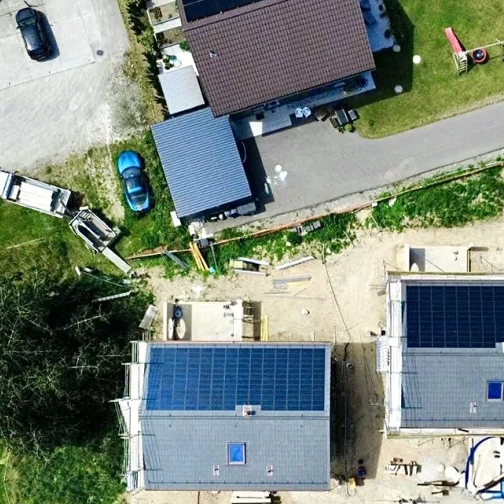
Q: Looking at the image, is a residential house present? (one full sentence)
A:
Yes, the frame does contain a residential house.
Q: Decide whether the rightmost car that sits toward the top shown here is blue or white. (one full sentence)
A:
The color of the rightmost car that sits toward the top is blue.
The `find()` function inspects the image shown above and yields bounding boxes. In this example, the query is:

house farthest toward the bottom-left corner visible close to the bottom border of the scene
[135,340,332,491]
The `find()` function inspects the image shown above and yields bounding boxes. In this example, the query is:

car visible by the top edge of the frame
[10,3,48,60]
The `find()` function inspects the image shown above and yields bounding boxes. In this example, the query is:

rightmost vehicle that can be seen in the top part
[116,150,148,211]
